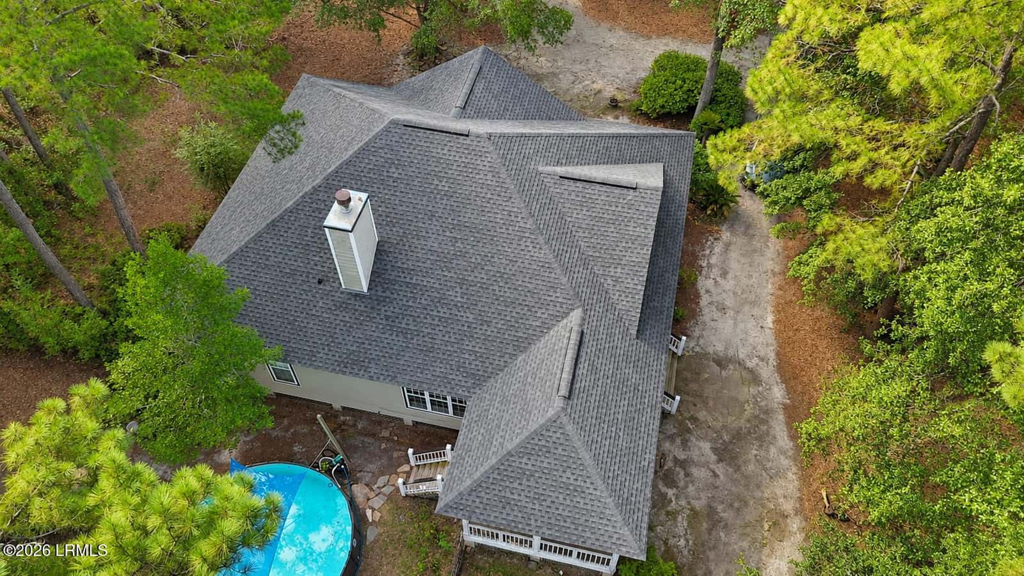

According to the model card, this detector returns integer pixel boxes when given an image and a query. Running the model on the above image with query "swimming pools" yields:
[151,460,363,576]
